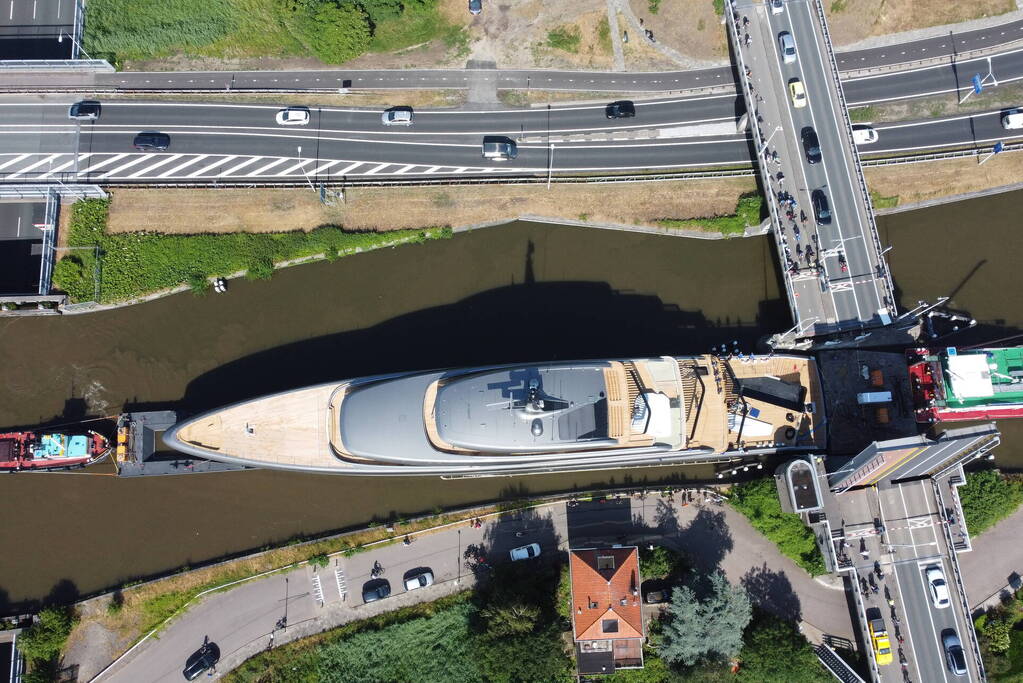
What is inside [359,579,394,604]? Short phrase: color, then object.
black car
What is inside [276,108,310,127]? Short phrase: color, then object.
white car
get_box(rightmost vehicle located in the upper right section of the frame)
[999,109,1023,130]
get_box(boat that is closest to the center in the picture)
[163,352,830,480]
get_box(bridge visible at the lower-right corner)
[758,457,995,683]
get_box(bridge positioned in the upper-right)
[725,0,918,356]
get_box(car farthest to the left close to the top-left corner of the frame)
[69,103,103,121]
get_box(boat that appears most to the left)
[0,430,115,476]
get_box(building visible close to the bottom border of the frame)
[569,544,644,673]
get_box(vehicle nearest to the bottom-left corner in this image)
[179,641,224,683]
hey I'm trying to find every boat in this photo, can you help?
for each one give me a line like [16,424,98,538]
[163,352,830,480]
[0,430,115,476]
[903,344,1023,424]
